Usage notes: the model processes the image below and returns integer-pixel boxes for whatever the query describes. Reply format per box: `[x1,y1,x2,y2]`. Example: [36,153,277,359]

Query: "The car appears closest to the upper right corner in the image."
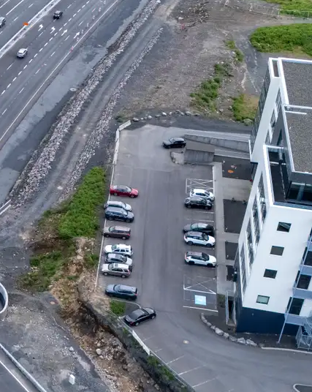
[161,135,187,147]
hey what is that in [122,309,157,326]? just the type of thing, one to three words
car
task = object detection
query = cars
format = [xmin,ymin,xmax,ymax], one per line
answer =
[104,251,133,266]
[185,250,216,267]
[184,222,214,237]
[101,261,131,277]
[102,226,133,240]
[111,185,138,199]
[122,309,157,326]
[104,241,134,257]
[16,48,27,58]
[106,207,134,223]
[184,193,213,209]
[0,15,6,27]
[190,186,215,200]
[104,198,133,213]
[105,282,138,299]
[161,135,187,147]
[185,230,215,247]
